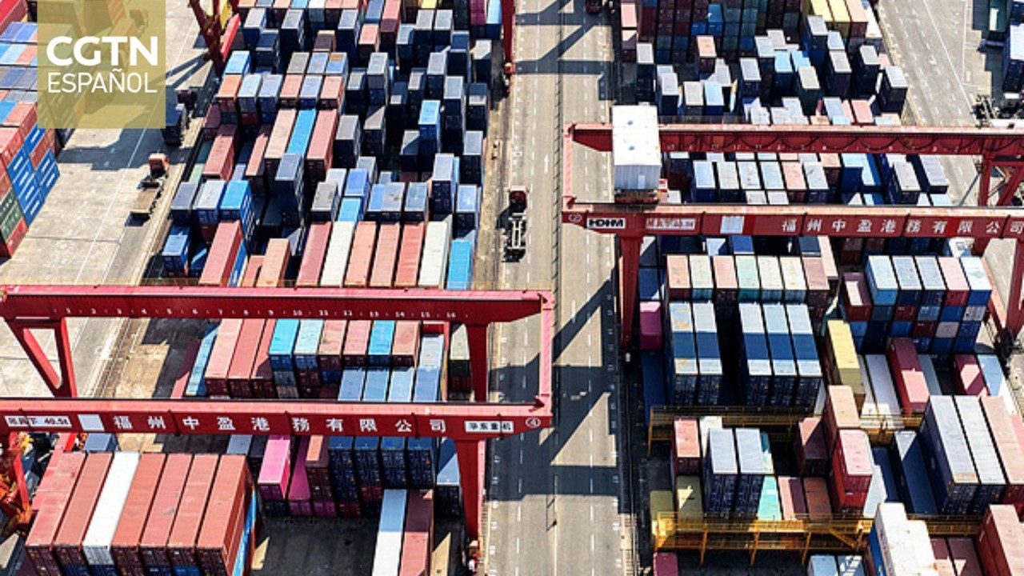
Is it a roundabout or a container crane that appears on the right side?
container crane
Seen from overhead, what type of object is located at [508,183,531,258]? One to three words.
truck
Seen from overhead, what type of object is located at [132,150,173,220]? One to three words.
truck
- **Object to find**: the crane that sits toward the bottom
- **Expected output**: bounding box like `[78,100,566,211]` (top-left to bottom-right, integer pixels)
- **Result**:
[0,273,553,576]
